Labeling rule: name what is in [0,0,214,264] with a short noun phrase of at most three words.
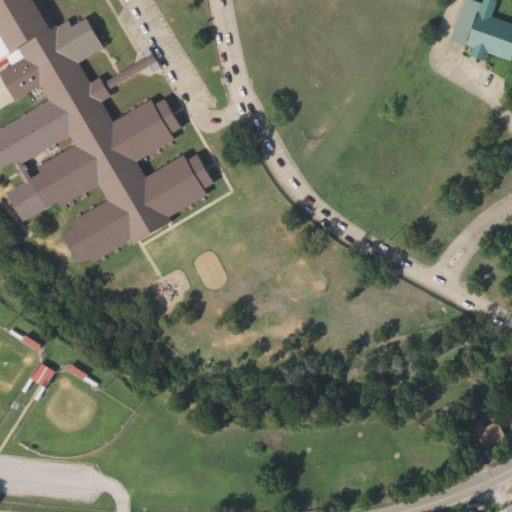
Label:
building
